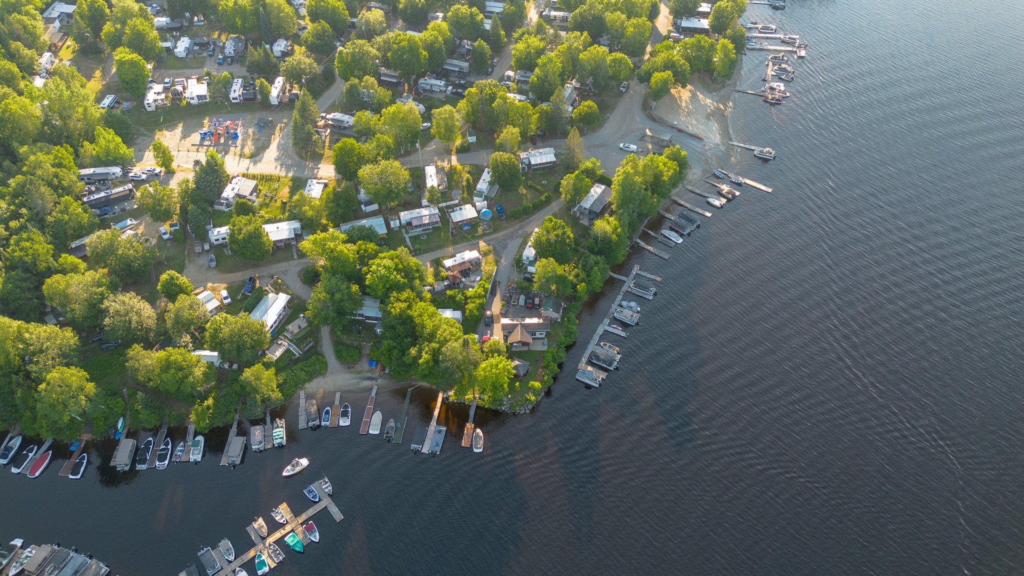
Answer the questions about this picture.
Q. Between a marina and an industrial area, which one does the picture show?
marina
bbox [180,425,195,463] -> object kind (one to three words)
pier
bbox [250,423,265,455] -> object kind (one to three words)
boat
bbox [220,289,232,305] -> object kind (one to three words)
vehicle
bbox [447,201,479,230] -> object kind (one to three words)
house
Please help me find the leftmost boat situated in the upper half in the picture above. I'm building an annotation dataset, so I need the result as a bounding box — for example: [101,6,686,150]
[110,217,134,229]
